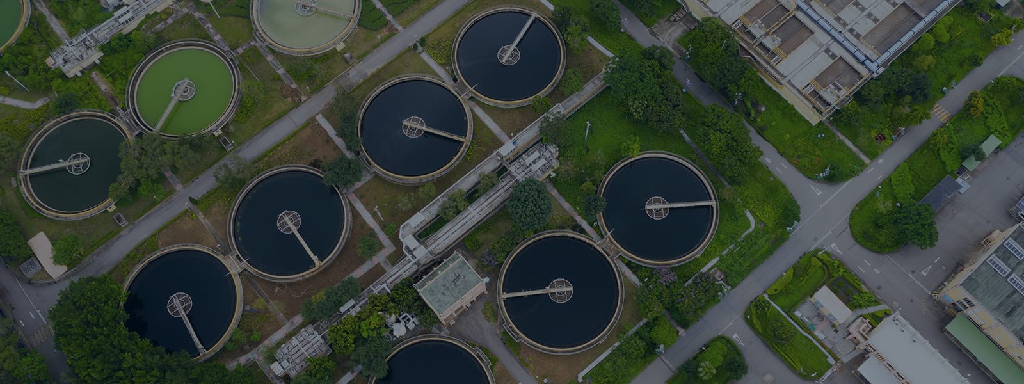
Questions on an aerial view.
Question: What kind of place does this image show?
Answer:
industrial area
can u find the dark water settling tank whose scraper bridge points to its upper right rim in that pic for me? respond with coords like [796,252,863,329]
[451,4,567,109]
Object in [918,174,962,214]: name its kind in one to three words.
shed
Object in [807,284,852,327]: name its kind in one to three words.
building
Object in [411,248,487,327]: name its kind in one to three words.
building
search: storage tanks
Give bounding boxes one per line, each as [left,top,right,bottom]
[126,38,243,143]
[17,109,136,221]
[595,150,721,269]
[354,73,473,184]
[0,0,33,56]
[451,4,567,109]
[227,164,352,283]
[496,229,625,356]
[251,0,362,57]
[369,333,496,384]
